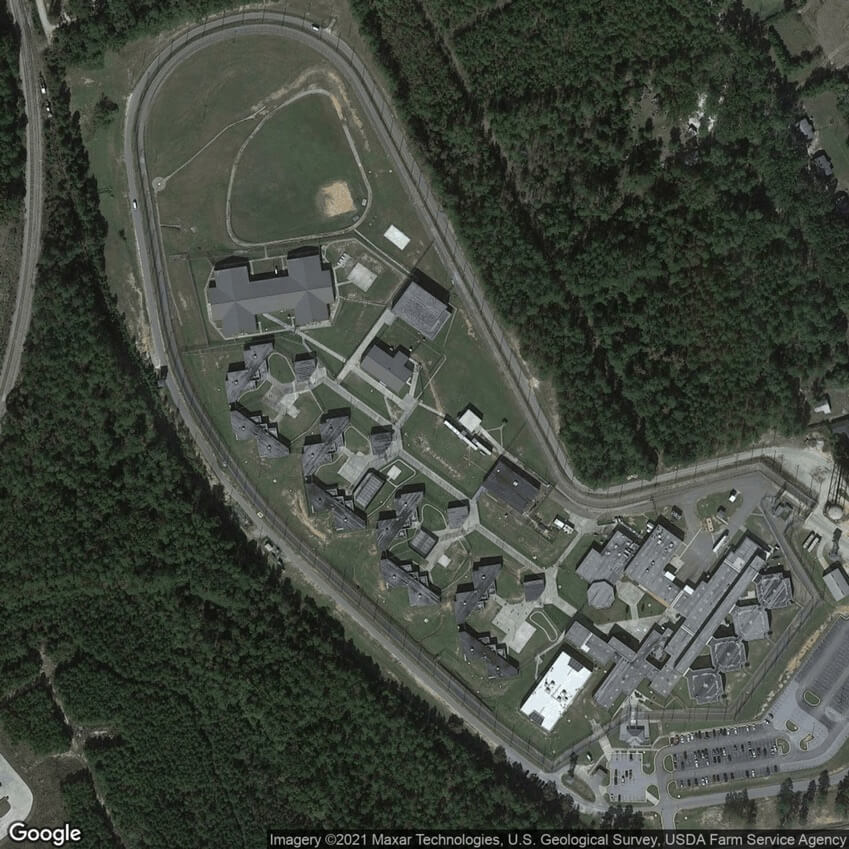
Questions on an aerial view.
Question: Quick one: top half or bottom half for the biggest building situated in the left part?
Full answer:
The top half of the photo is where the biggest building situated in the left part is.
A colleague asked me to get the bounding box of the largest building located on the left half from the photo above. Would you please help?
[208,255,336,337]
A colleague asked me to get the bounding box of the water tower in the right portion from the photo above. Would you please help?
[823,499,849,523]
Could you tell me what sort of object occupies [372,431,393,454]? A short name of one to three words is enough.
building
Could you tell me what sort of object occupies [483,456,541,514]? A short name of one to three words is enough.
building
